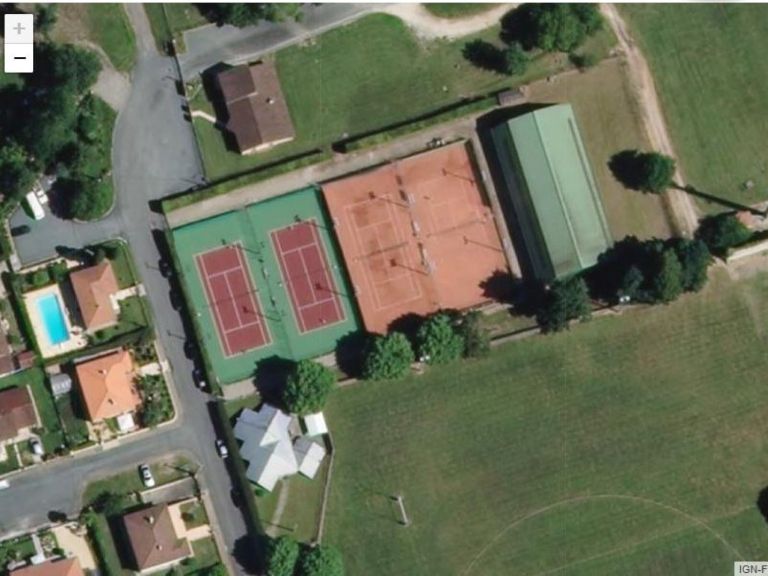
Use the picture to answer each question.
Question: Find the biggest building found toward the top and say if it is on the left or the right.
right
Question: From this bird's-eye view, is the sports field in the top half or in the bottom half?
bottom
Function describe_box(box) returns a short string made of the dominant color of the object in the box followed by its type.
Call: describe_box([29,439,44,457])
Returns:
white car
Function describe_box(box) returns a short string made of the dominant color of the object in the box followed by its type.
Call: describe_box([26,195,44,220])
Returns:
white vehicle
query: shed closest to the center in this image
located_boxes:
[304,412,328,437]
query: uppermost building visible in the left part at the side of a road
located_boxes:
[218,60,294,150]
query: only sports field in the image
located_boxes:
[317,254,768,576]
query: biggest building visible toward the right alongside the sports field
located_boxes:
[491,103,617,283]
